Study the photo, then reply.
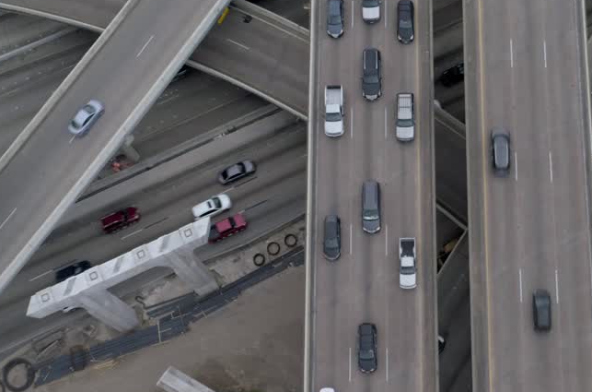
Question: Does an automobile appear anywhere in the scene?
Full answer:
Yes, an automobile is visible in the scene.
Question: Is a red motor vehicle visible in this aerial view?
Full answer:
Yes, the image includes a red motor vehicle.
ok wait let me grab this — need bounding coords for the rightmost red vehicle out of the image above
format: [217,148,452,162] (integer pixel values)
[210,209,249,243]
